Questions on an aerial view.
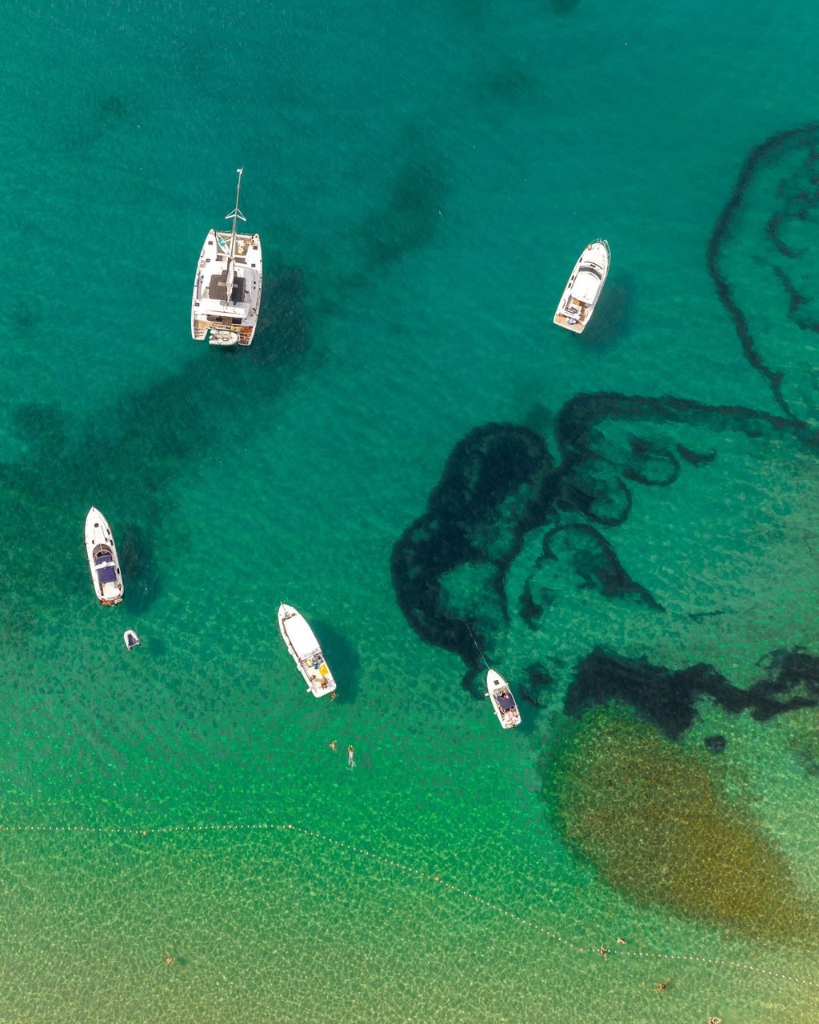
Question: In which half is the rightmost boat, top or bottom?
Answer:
top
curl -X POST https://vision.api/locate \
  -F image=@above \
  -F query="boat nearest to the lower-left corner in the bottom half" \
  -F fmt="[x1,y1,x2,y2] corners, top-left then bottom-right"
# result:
[124,629,139,650]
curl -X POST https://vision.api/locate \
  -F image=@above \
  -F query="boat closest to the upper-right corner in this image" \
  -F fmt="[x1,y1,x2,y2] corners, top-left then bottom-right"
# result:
[554,237,611,334]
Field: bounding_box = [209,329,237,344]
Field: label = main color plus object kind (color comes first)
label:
white boat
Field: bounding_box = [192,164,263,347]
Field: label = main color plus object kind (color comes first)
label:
white boat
